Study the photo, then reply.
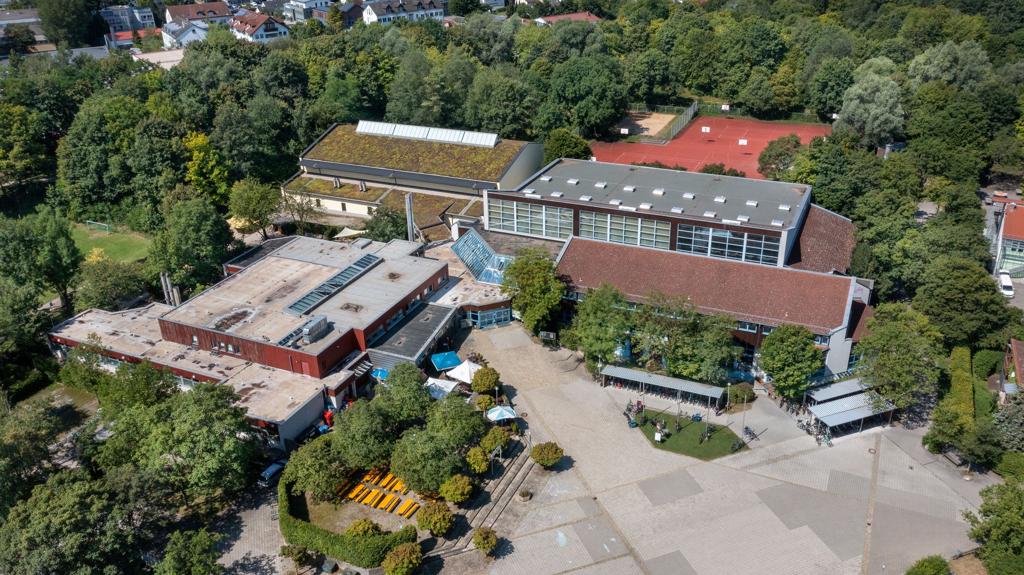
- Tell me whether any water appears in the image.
No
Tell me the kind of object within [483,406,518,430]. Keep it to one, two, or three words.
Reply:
umbrella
